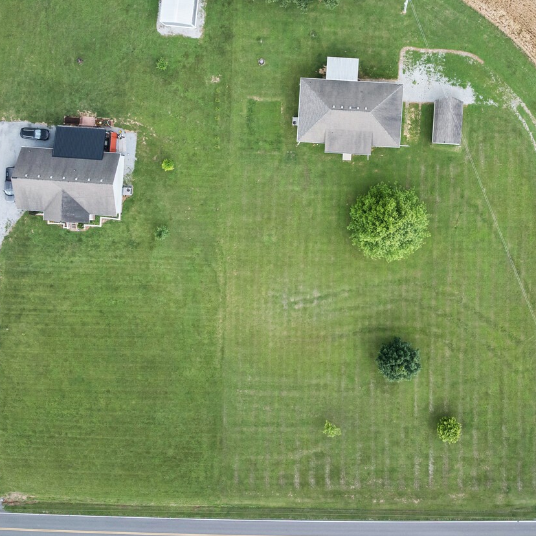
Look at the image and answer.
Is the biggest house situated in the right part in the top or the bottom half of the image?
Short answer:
top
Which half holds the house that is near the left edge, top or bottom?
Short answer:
top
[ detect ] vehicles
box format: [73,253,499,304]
[3,166,15,199]
[18,126,49,141]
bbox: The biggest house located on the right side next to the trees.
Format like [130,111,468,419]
[296,57,409,160]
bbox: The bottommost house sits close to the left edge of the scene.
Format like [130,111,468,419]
[11,125,124,230]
